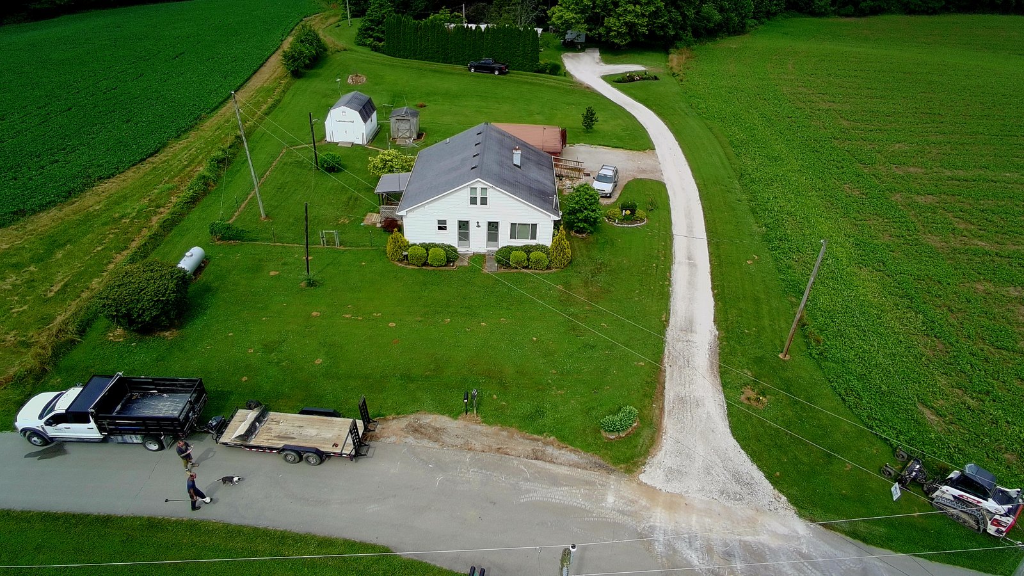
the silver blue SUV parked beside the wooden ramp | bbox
[590,165,621,198]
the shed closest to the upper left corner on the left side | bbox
[322,95,376,146]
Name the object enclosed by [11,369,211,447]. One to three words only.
truck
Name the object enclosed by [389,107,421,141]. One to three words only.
shed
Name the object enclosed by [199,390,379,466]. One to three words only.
trailer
